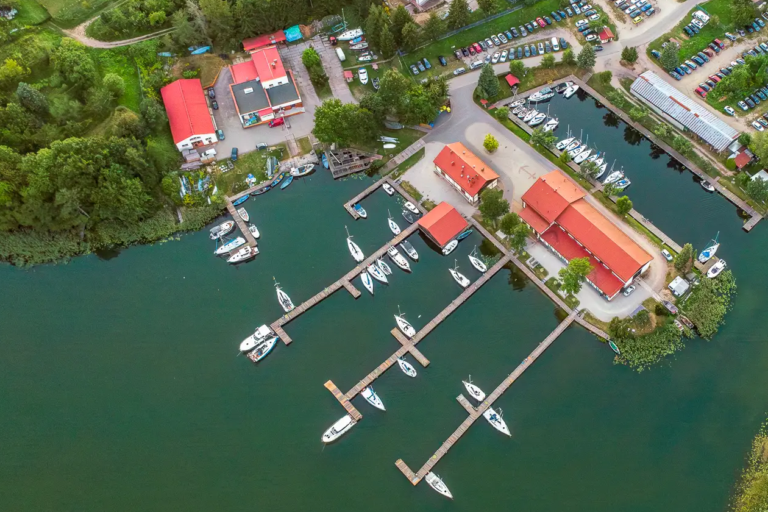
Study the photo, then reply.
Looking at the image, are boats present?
Yes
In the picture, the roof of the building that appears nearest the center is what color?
red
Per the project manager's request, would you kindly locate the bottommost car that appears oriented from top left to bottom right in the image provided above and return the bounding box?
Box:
[661,247,674,263]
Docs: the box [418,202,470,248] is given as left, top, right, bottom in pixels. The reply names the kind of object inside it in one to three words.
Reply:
building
